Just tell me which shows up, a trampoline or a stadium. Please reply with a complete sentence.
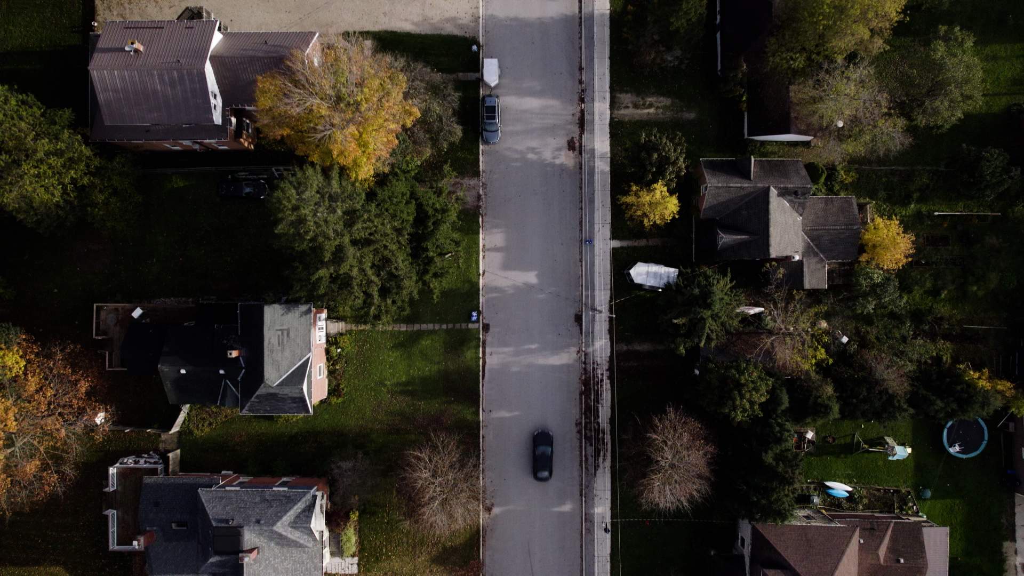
The image shows a trampoline.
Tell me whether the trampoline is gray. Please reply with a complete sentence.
No, the color of the trampoline is black.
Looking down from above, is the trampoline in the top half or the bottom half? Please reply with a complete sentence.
You can find the trampoline in the bottom half.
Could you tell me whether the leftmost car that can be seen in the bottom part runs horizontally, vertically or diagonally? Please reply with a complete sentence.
From this overhead view, the leftmost car that can be seen in the bottom part appears to run vertically.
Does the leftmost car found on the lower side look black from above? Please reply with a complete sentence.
Yes, the leftmost car found on the lower side appears black.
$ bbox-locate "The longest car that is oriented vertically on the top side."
[480,92,503,144]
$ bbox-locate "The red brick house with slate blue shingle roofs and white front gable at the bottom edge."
[134,470,342,576]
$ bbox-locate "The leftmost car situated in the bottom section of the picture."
[532,431,555,484]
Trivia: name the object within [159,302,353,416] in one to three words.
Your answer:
house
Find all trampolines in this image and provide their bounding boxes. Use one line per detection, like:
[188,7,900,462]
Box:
[939,416,987,460]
